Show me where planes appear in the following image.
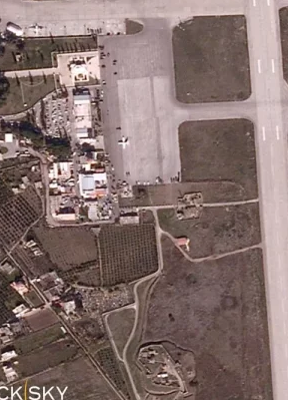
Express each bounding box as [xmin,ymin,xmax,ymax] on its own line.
[29,24,43,35]
[118,137,129,149]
